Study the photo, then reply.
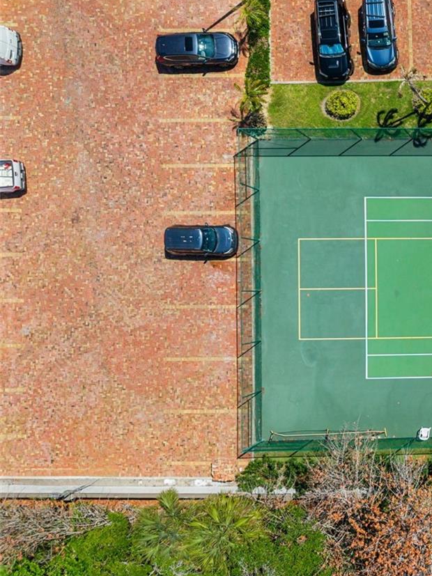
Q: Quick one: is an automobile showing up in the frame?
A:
Yes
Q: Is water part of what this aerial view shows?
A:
No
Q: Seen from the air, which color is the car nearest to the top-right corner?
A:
blue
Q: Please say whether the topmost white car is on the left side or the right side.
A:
left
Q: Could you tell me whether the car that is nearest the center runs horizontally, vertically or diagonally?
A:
horizontally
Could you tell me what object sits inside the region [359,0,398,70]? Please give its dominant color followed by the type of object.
blue car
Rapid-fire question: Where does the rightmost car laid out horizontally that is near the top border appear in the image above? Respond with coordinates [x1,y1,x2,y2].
[156,26,240,68]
